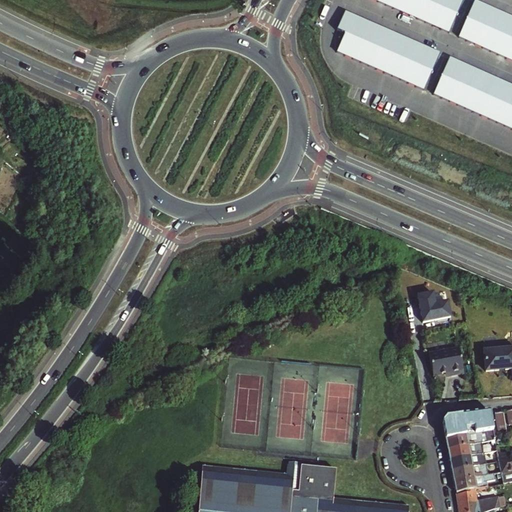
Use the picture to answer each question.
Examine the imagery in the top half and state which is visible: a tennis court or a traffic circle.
traffic circle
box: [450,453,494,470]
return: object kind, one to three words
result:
house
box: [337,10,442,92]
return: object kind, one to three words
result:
building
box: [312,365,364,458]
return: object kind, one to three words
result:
tennis court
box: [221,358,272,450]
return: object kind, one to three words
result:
tennis court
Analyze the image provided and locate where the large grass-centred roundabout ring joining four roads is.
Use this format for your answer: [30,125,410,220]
[111,28,308,226]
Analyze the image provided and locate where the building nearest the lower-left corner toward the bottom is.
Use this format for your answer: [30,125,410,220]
[198,465,287,512]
